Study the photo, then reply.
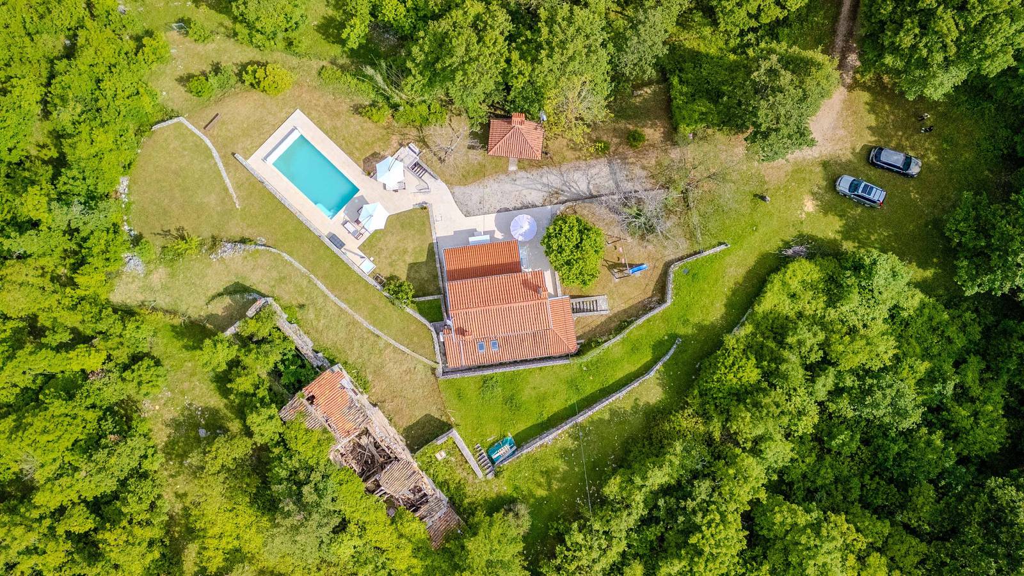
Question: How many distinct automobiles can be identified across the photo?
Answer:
2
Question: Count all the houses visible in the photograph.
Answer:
2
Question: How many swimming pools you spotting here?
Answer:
1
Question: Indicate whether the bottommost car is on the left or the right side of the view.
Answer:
right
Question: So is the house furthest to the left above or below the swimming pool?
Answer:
below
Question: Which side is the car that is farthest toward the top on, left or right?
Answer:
right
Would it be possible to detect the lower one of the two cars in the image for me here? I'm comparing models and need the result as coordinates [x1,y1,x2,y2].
[834,174,892,209]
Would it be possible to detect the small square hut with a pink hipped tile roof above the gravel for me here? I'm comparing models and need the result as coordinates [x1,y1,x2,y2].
[486,114,545,161]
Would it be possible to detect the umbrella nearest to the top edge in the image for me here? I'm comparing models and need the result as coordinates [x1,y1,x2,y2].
[374,152,409,191]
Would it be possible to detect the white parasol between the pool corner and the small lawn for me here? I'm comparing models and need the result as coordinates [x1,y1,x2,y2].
[354,198,392,236]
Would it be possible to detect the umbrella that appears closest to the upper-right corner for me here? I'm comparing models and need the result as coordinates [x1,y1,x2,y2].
[510,214,537,241]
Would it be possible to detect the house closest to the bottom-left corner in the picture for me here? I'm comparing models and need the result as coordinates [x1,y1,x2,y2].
[280,355,469,549]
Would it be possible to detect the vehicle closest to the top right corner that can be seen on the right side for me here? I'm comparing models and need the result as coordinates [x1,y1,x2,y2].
[867,145,924,179]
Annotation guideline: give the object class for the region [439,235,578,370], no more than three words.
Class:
house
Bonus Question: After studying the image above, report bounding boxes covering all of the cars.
[834,174,892,209]
[867,145,924,179]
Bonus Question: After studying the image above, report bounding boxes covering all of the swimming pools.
[269,131,362,223]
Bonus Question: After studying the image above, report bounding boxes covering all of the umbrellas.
[374,152,409,191]
[510,214,537,241]
[354,198,392,236]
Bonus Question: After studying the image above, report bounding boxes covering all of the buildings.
[439,235,578,370]
[280,355,469,549]
[486,114,545,161]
